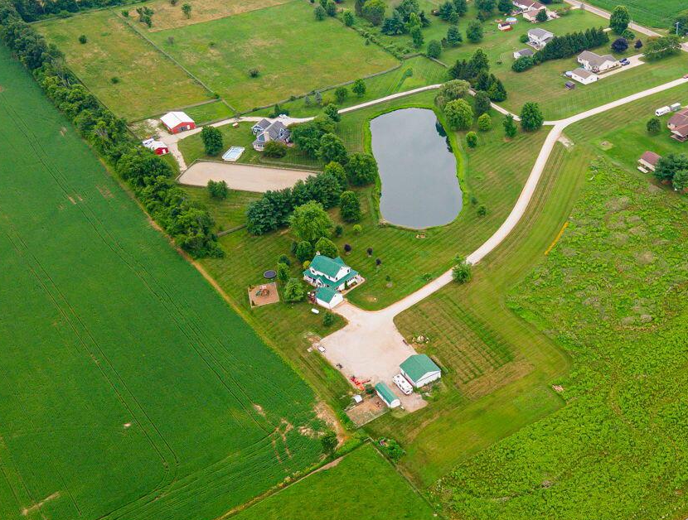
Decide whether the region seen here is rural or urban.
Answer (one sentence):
The land in this view is best described as rural.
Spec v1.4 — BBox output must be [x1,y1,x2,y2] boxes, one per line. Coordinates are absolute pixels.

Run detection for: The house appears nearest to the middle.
[297,253,360,316]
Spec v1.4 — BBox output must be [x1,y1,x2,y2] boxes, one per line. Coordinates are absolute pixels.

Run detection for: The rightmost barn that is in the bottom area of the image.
[398,353,442,389]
